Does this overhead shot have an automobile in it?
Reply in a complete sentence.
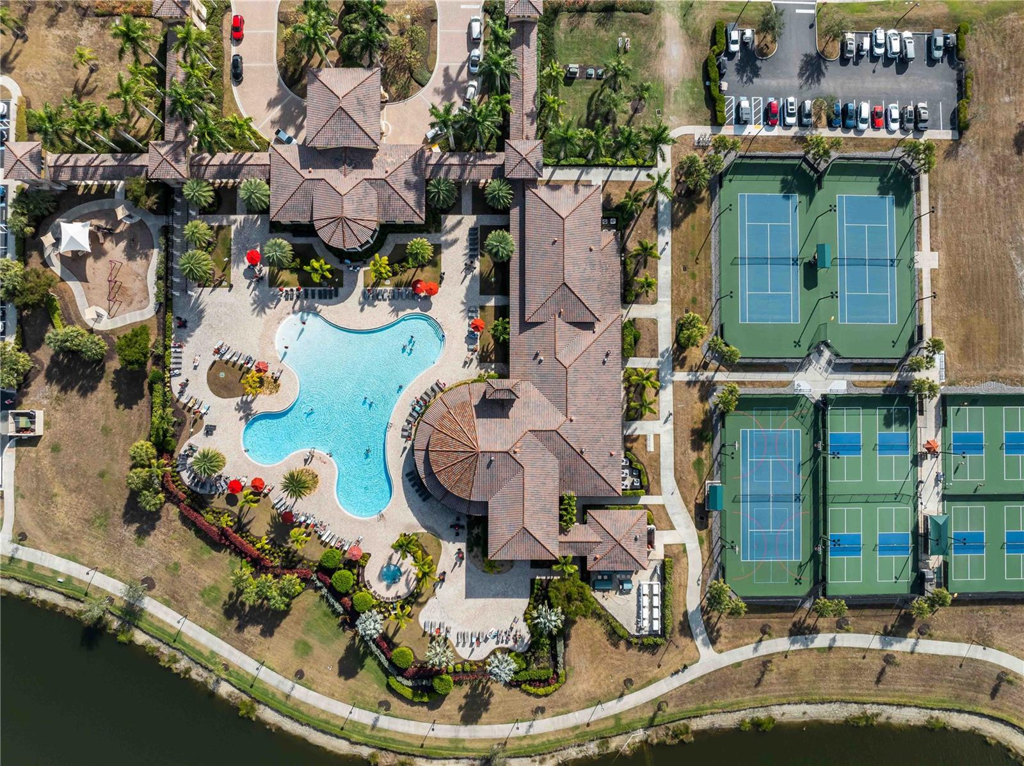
Yes, the frame does contain an automobile.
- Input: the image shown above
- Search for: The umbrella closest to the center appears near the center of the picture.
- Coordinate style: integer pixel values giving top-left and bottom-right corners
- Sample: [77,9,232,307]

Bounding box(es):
[470,318,485,333]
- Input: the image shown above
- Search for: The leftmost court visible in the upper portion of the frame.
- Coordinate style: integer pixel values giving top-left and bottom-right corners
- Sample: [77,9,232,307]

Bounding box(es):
[721,158,818,357]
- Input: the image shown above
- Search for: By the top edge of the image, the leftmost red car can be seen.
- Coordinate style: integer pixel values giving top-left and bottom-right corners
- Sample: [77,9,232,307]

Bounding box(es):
[231,14,245,41]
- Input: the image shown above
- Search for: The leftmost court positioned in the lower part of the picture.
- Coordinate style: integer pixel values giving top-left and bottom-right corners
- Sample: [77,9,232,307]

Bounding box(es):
[723,395,820,596]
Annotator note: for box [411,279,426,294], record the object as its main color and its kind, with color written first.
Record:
red umbrella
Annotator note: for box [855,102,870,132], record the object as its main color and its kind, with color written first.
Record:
white car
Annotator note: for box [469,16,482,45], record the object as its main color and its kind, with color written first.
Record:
white vehicle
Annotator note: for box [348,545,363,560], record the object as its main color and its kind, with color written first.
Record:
red umbrella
